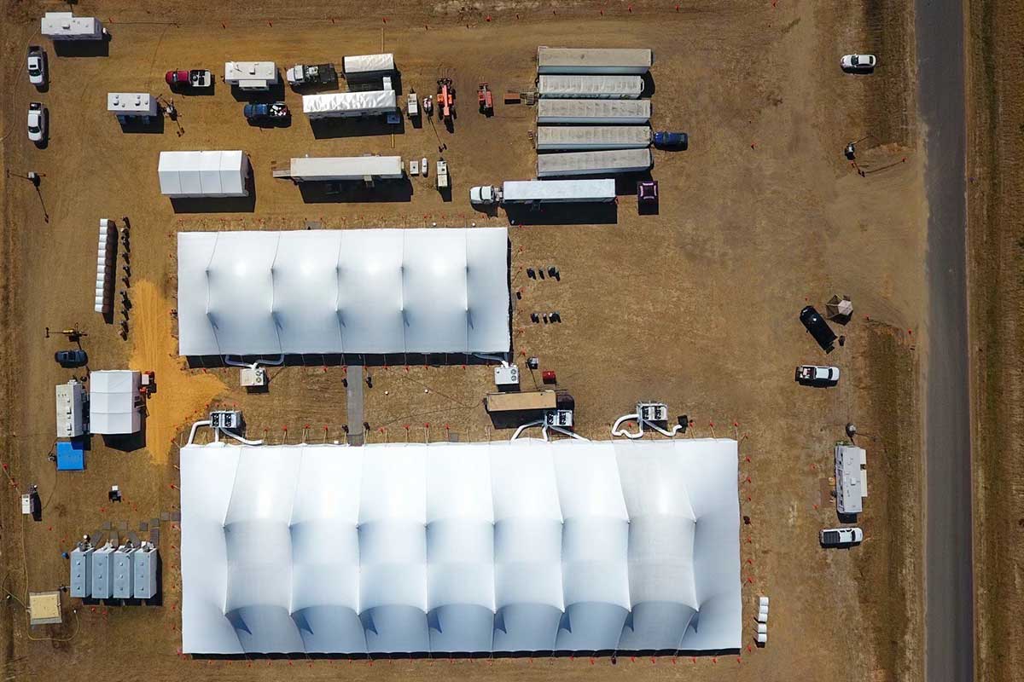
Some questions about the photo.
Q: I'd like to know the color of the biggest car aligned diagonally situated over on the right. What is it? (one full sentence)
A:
From above, the biggest car aligned diagonally situated over on the right appears black.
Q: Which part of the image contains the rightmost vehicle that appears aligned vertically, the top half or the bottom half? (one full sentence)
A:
The bottom half of the photo is where the rightmost vehicle that appears aligned vertically is.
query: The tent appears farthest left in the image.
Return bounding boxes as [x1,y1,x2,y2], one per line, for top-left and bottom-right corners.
[90,371,140,434]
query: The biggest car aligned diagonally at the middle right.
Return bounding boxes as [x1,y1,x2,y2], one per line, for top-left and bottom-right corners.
[797,307,835,351]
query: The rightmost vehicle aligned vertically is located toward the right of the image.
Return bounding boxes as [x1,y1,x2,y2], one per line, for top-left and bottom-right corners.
[832,437,867,512]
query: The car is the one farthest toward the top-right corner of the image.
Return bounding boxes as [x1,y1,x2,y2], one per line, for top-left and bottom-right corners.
[839,54,874,71]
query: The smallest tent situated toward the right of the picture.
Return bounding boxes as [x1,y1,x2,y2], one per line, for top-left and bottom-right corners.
[822,293,848,321]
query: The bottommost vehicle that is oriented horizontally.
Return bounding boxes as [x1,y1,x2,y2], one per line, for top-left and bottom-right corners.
[818,527,861,545]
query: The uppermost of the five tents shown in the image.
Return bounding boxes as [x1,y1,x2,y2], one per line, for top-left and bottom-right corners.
[158,151,248,197]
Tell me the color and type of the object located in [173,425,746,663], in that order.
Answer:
white tent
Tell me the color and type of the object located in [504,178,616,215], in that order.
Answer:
white trailer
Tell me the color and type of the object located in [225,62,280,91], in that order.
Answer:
white vehicle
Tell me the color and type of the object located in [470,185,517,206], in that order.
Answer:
white truck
